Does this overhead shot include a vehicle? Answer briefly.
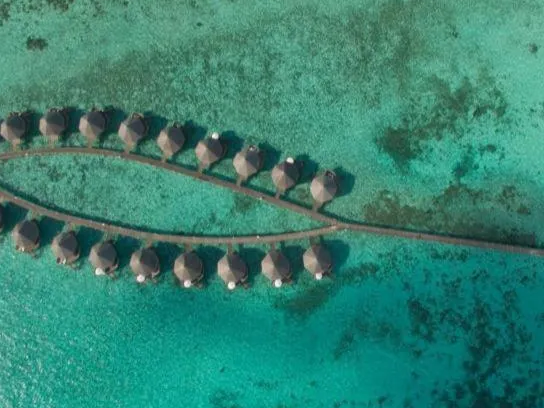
No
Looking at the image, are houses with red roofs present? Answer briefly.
No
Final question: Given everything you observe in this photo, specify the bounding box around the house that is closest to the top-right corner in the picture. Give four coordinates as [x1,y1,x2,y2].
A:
[309,167,340,202]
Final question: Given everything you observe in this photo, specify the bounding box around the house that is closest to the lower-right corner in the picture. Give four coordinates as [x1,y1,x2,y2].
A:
[303,245,333,278]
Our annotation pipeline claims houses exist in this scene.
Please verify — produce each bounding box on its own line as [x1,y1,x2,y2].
[219,255,249,289]
[2,107,33,141]
[132,249,163,283]
[309,167,340,202]
[53,233,85,269]
[262,253,292,286]
[233,144,264,178]
[175,253,205,287]
[40,103,72,137]
[157,121,189,155]
[119,111,151,144]
[14,219,46,255]
[271,155,301,190]
[195,132,227,166]
[91,243,122,278]
[303,245,333,278]
[79,103,111,138]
